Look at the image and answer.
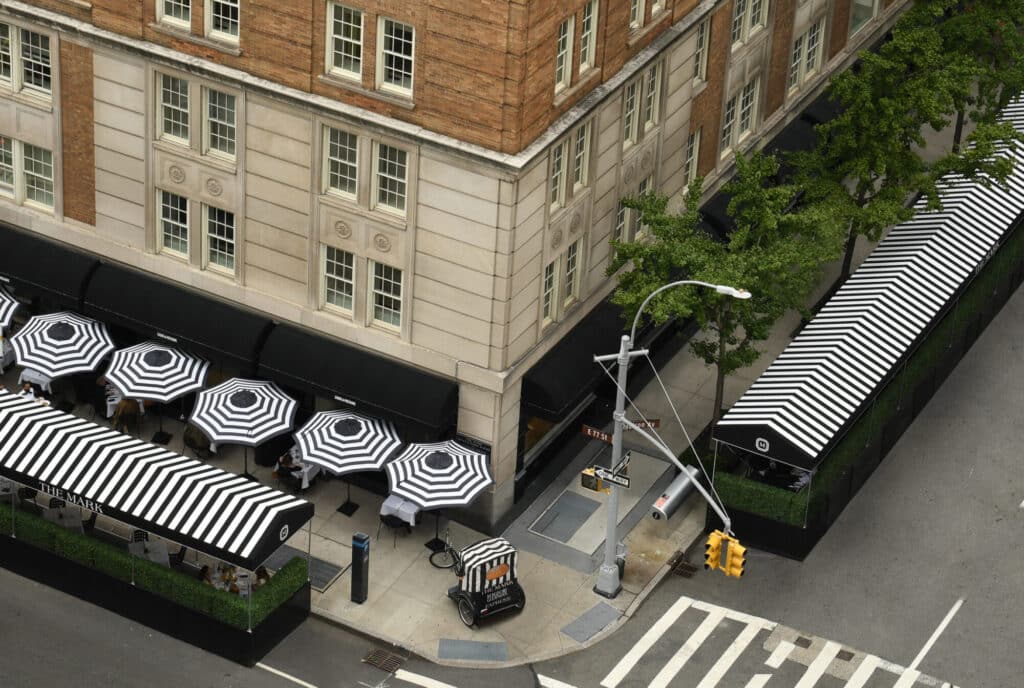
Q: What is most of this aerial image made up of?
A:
buildings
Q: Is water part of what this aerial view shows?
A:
No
